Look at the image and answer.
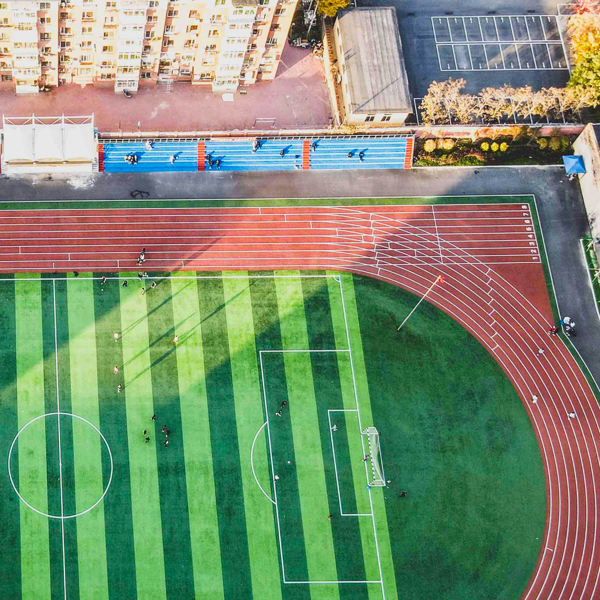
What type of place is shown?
sports ground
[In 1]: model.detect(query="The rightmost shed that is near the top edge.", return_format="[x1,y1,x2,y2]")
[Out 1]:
[332,7,412,124]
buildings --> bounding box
[0,0,300,97]
[332,7,412,124]
[574,122,600,237]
